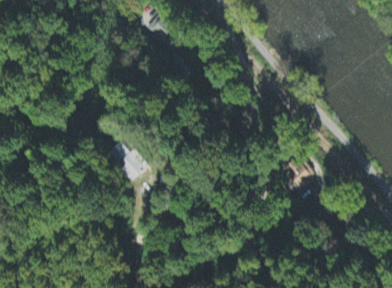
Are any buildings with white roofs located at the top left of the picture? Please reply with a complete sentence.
No, no building with a white roof appears at the top left of the picture.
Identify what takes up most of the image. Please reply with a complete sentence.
The largest share of the image is taken up by trees.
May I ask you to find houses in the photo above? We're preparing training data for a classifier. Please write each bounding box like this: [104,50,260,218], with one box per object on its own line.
[114,151,150,182]
[284,159,314,186]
